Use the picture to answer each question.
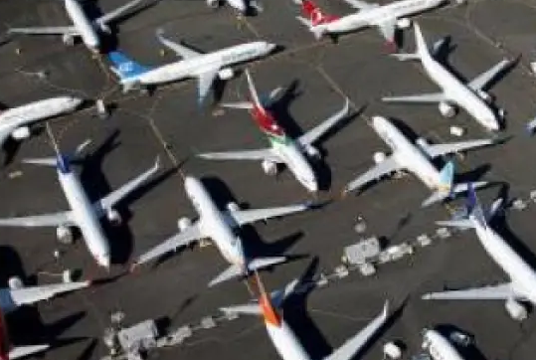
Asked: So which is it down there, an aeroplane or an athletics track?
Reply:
aeroplane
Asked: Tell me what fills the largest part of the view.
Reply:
paved ground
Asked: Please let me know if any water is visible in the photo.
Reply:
No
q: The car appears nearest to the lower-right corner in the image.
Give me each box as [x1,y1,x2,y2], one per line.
[450,327,472,343]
